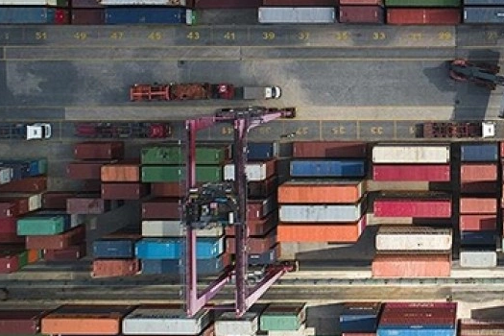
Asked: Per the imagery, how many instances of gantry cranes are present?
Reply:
1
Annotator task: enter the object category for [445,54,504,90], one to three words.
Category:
work vehicle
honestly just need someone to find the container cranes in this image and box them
[170,106,295,322]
